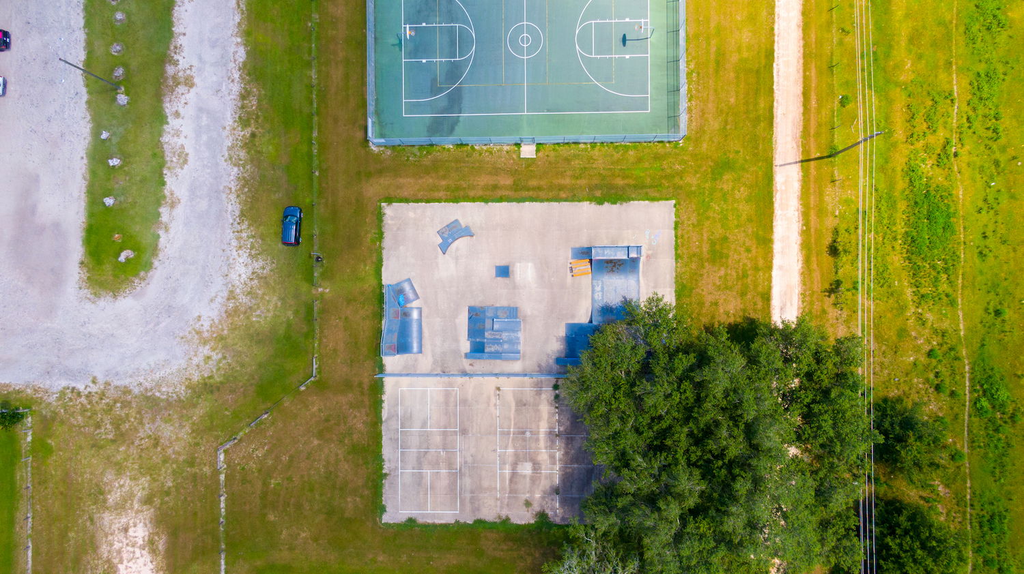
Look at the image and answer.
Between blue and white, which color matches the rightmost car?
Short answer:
blue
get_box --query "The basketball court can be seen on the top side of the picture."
[373,0,680,145]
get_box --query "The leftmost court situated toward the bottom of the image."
[397,387,460,515]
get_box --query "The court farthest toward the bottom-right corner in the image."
[461,387,601,516]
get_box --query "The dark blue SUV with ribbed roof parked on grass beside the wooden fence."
[280,205,303,246]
